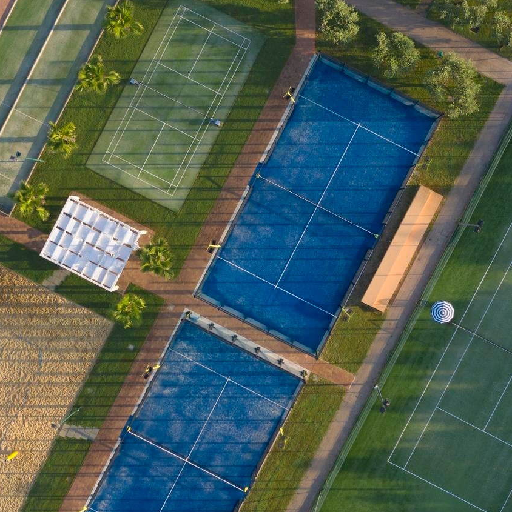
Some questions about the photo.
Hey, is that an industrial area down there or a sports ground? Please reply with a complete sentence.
The picture captures a sports ground.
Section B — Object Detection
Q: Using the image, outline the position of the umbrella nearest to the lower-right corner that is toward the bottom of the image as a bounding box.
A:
[430,300,454,324]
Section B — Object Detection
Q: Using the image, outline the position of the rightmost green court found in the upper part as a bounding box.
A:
[85,0,265,213]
